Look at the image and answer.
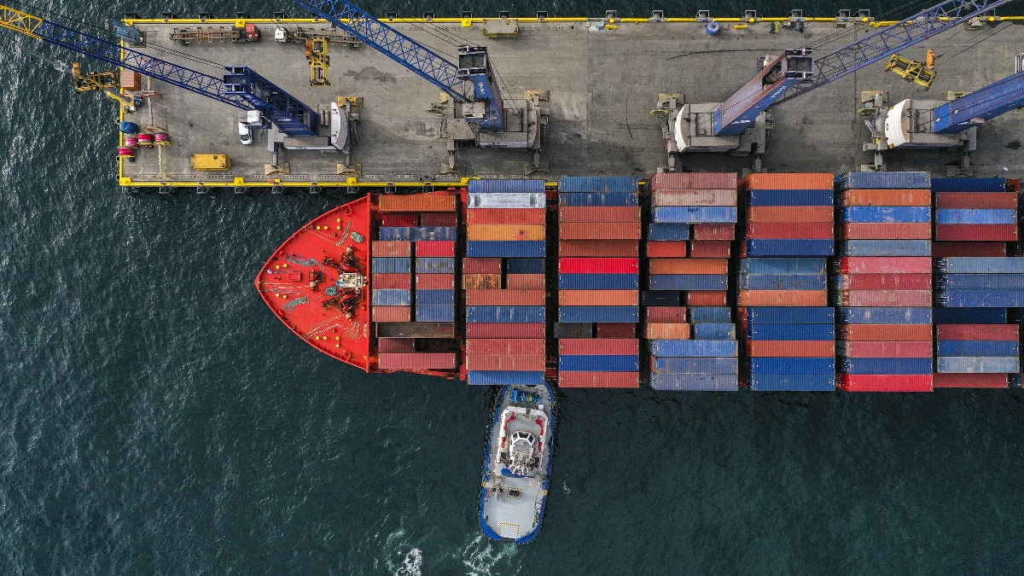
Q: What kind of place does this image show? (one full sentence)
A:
It's a port.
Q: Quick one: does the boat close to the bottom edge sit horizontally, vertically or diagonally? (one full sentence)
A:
In this picture, the boat close to the bottom edge is oriented vertically.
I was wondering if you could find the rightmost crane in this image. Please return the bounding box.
[855,57,1024,175]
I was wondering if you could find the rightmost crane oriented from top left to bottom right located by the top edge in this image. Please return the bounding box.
[255,0,552,173]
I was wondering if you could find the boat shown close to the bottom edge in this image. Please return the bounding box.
[478,384,555,552]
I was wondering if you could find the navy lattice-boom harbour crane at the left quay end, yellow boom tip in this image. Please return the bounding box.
[0,0,362,173]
